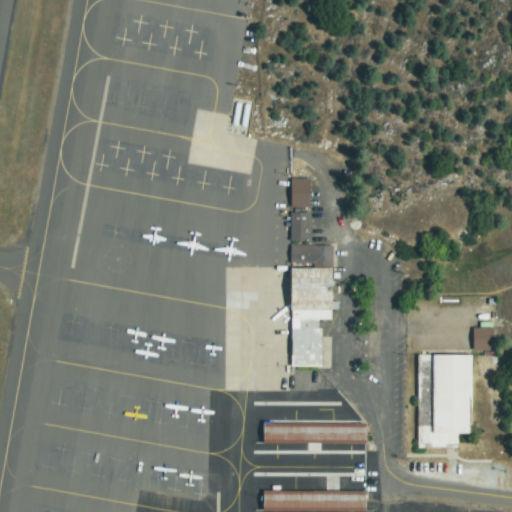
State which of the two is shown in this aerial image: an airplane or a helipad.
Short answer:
airplane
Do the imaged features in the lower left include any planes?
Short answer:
Yes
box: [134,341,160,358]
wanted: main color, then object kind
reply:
white airplane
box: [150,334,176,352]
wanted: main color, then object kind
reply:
white airplane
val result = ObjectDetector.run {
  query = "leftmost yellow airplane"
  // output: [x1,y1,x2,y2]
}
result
[124,404,148,420]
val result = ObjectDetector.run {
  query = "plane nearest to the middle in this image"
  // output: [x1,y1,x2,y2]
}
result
[215,236,248,260]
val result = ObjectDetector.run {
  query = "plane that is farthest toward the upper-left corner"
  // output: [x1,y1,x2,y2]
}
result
[142,225,167,246]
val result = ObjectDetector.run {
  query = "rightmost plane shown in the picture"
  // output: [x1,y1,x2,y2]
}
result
[270,305,291,324]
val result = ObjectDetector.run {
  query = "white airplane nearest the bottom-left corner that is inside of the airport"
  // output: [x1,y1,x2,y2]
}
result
[153,464,177,482]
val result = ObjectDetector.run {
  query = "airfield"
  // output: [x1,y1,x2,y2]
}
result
[0,0,368,512]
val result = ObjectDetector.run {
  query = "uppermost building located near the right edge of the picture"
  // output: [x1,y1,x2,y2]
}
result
[474,328,494,350]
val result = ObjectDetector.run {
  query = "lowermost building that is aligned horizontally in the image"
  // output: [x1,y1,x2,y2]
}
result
[264,492,367,512]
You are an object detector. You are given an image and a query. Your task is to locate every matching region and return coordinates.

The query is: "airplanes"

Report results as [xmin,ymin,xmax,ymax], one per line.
[150,334,176,352]
[190,407,216,424]
[142,225,167,246]
[134,341,160,358]
[178,472,204,490]
[126,328,148,346]
[164,402,190,420]
[204,344,222,359]
[270,305,291,324]
[124,404,148,420]
[215,236,248,260]
[153,464,177,482]
[177,230,210,254]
